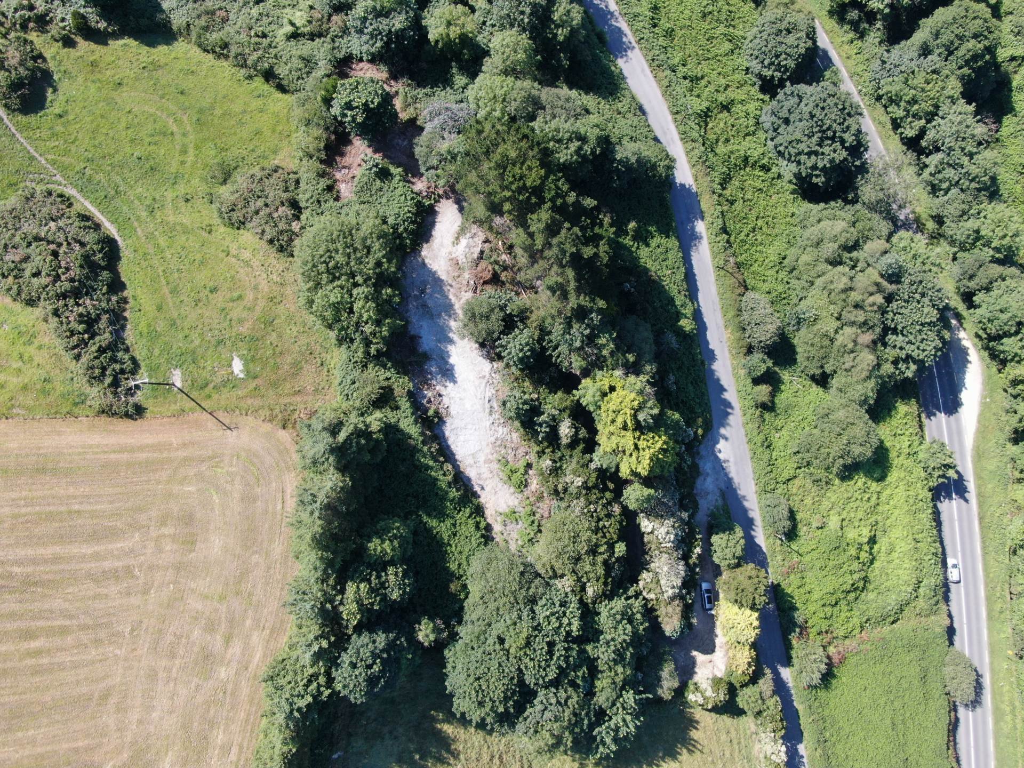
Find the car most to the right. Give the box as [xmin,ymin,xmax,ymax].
[944,557,960,583]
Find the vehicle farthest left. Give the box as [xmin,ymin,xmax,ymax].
[700,582,714,612]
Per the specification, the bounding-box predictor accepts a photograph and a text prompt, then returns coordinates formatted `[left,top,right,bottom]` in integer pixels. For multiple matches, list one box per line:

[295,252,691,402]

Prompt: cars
[944,557,960,583]
[700,582,714,612]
